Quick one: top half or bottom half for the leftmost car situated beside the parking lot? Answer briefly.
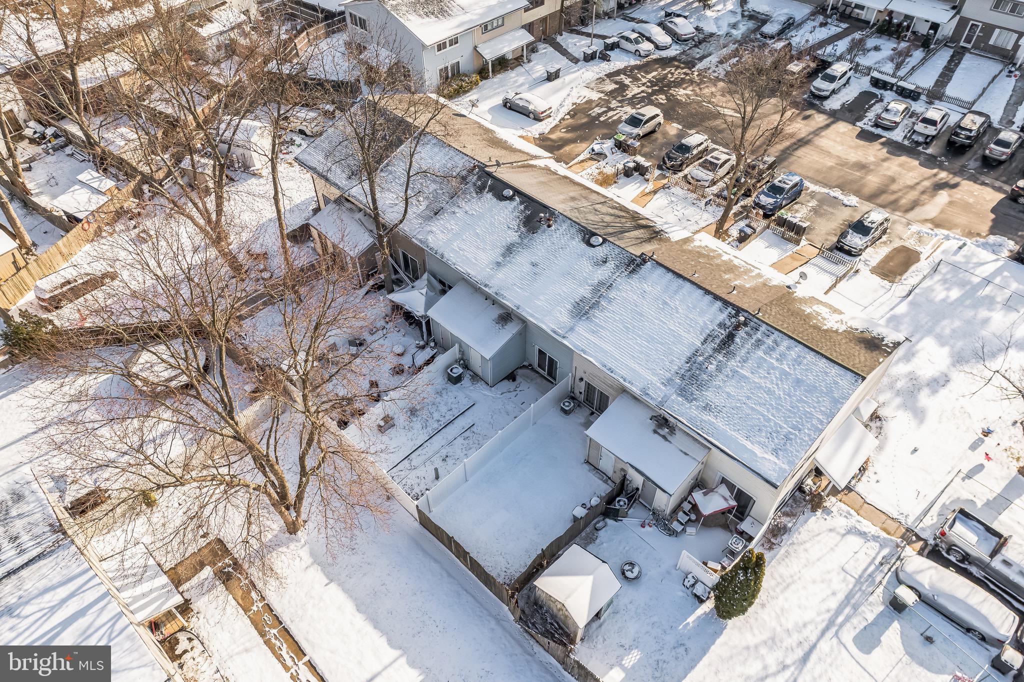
top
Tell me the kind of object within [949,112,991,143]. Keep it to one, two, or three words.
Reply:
car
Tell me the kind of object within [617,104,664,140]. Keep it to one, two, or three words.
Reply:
car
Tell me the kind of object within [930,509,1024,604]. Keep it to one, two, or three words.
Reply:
truck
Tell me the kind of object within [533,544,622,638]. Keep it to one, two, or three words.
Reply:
shed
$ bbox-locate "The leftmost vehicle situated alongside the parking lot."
[503,96,554,123]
